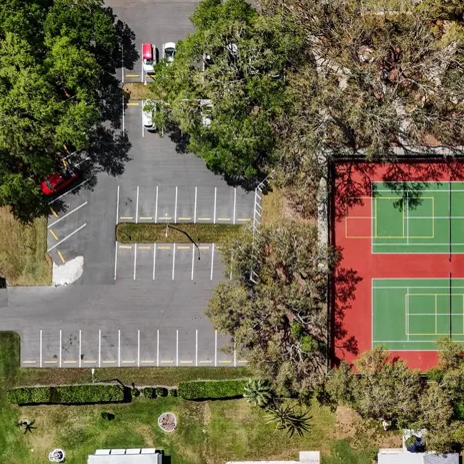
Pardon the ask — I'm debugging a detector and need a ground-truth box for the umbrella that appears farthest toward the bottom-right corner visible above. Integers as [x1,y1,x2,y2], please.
[409,435,423,450]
